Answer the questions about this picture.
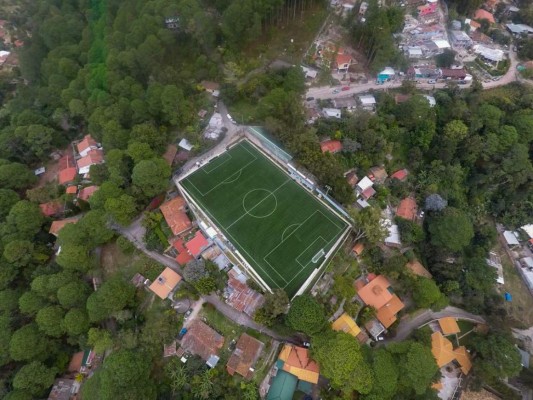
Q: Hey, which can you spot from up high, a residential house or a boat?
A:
residential house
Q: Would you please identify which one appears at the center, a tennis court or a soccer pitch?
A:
soccer pitch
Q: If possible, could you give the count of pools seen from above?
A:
none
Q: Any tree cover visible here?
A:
Yes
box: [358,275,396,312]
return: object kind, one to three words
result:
house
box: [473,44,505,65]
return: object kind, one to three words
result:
building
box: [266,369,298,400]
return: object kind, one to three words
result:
house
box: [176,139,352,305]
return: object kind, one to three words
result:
soccer field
